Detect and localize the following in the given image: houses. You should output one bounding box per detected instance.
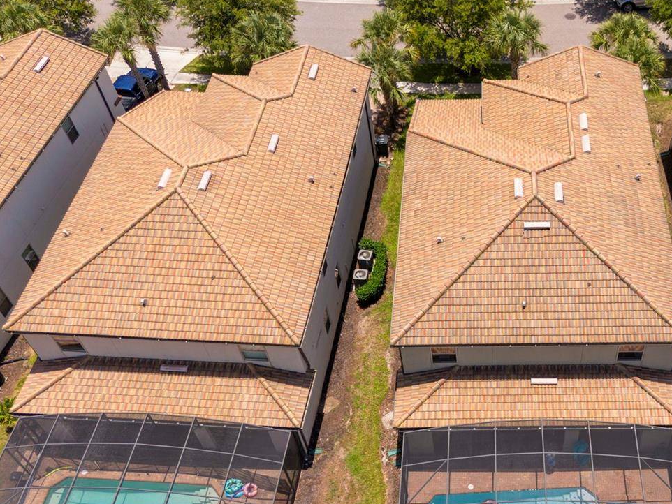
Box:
[0,44,380,446]
[386,44,672,447]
